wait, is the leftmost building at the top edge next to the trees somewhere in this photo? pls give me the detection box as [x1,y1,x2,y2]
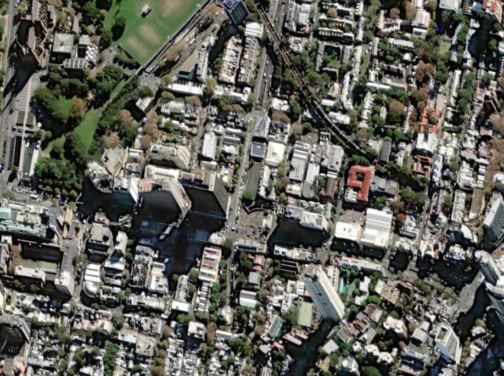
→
[22,2,57,67]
